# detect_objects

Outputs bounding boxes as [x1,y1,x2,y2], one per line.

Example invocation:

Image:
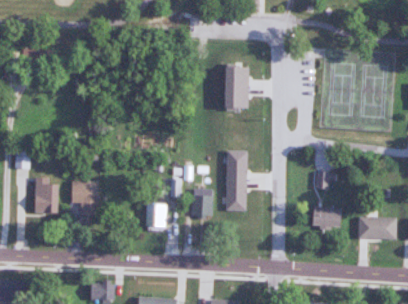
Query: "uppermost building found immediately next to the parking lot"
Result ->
[225,62,250,114]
